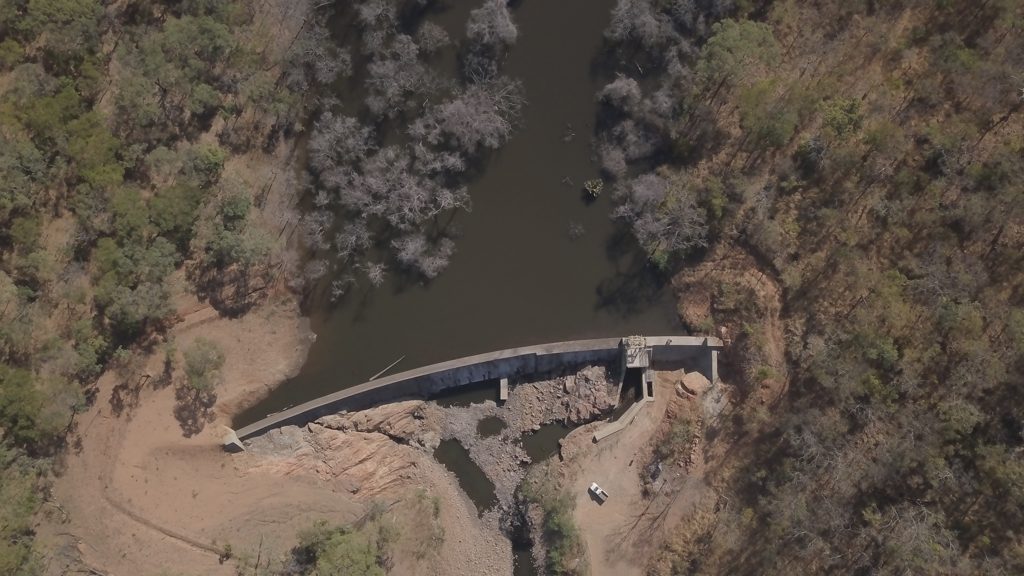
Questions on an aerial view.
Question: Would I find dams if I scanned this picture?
Yes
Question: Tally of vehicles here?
1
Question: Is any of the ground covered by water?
Yes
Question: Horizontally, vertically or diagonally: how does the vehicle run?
diagonally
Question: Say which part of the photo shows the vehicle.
bottom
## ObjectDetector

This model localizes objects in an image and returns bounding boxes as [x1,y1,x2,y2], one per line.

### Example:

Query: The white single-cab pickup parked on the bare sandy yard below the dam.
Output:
[589,484,609,505]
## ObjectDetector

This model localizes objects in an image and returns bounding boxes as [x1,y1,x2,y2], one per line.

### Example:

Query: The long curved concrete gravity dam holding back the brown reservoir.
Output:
[222,335,724,452]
